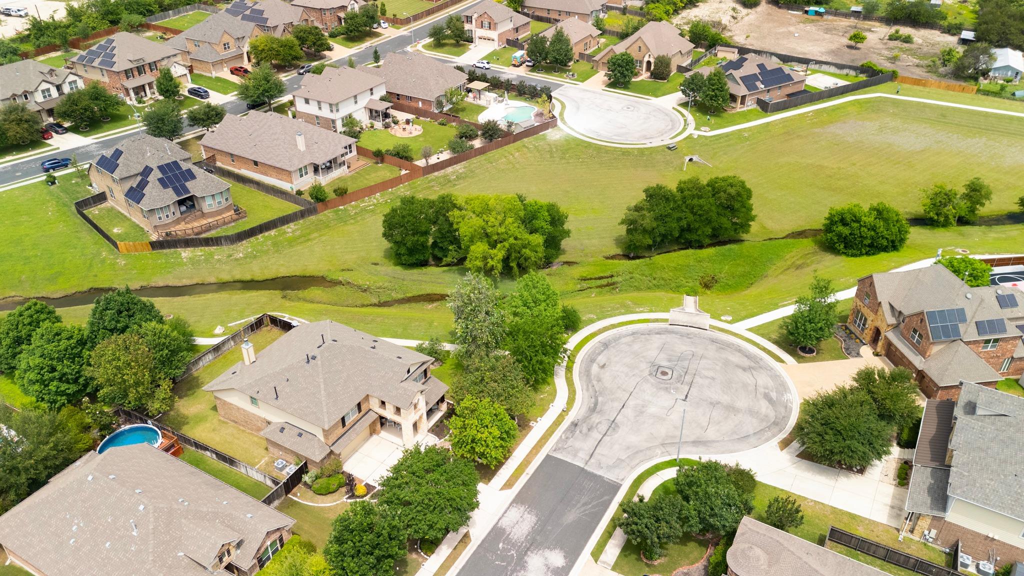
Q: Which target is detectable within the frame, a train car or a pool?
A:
pool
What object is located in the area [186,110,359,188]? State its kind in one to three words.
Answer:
house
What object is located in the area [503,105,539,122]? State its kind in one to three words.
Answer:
swimming pool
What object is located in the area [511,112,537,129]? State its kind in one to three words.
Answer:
shed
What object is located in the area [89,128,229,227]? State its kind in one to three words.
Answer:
house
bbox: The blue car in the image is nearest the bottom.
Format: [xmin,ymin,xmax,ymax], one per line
[40,156,70,170]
